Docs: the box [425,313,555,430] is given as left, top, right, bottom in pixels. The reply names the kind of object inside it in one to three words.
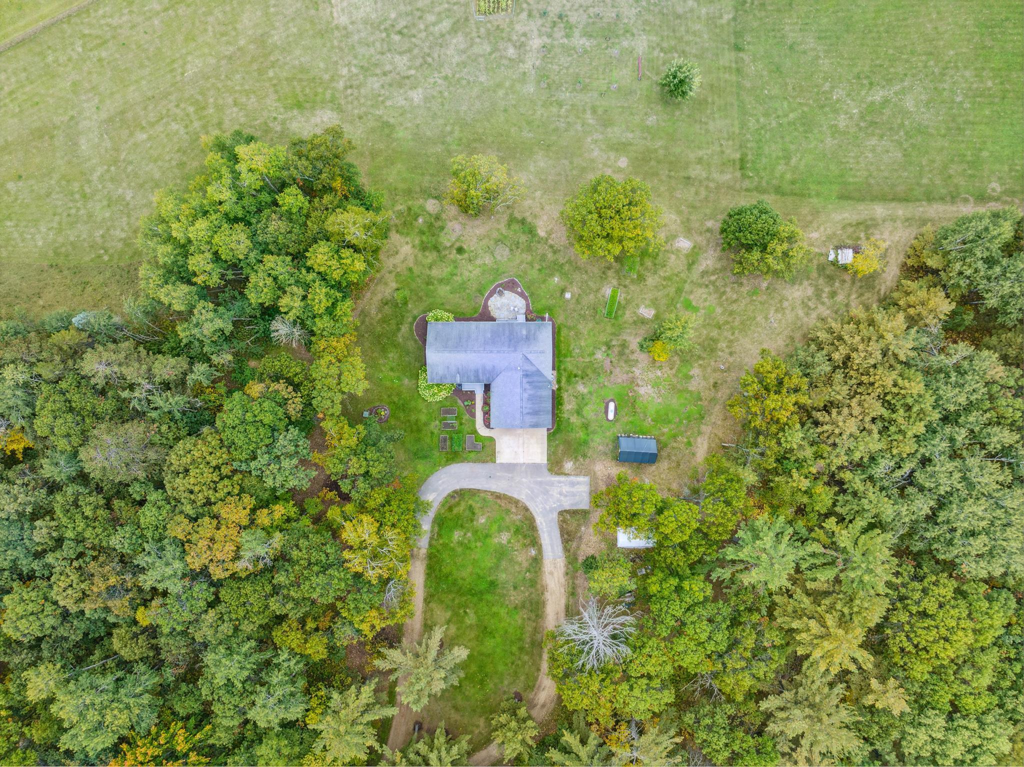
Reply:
house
